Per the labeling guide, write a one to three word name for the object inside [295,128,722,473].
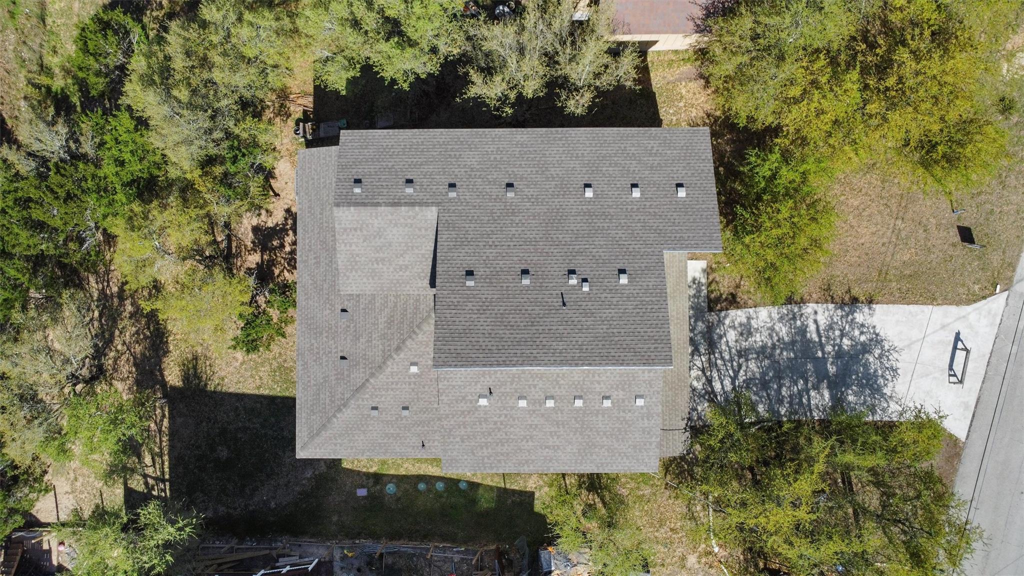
house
